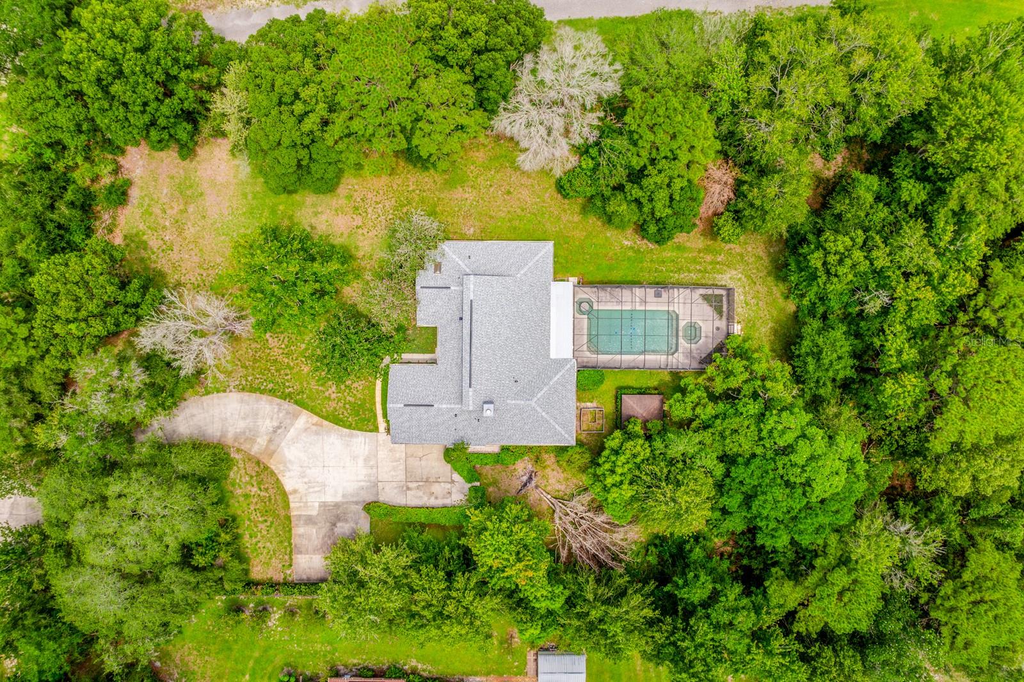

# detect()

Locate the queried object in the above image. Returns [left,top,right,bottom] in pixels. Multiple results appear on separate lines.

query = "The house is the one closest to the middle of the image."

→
[387,240,577,449]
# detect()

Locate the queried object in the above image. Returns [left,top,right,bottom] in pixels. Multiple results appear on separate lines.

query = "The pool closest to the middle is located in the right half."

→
[573,295,682,358]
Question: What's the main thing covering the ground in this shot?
trees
